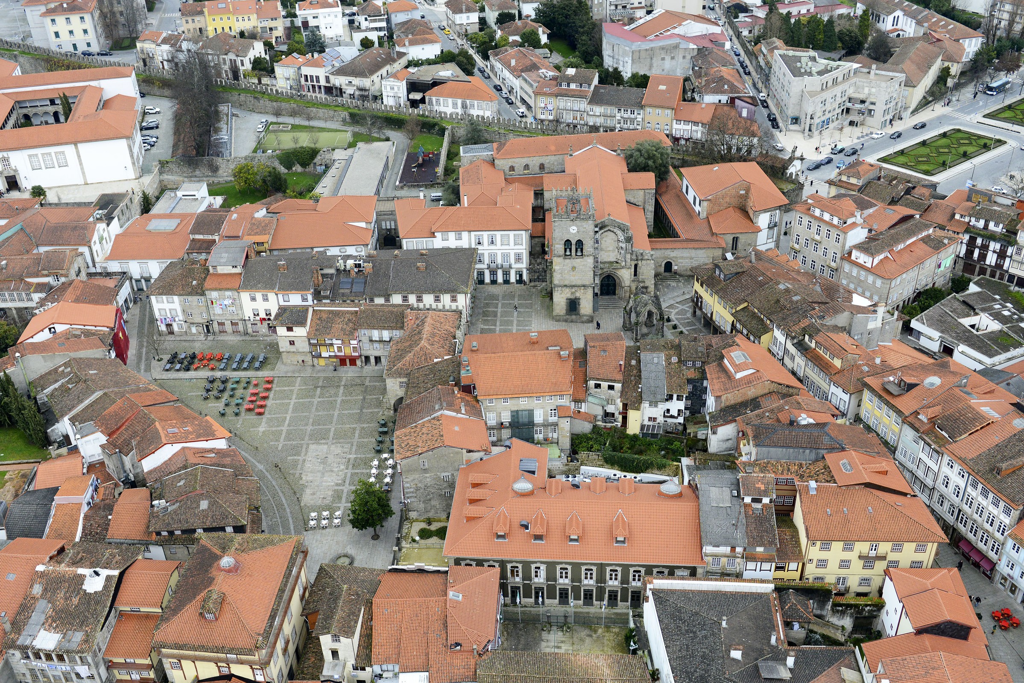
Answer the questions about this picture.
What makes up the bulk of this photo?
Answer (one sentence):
The bulk of the photo consists of buildings.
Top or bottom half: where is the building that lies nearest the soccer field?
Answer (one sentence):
The top half of the photo is where the building that lies nearest the soccer field is.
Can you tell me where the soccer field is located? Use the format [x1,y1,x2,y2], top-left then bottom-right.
[261,132,347,149]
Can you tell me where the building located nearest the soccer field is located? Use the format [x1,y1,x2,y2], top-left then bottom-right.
[312,142,394,208]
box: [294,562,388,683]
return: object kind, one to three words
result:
house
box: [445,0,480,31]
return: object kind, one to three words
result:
house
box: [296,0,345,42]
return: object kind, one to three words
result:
building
